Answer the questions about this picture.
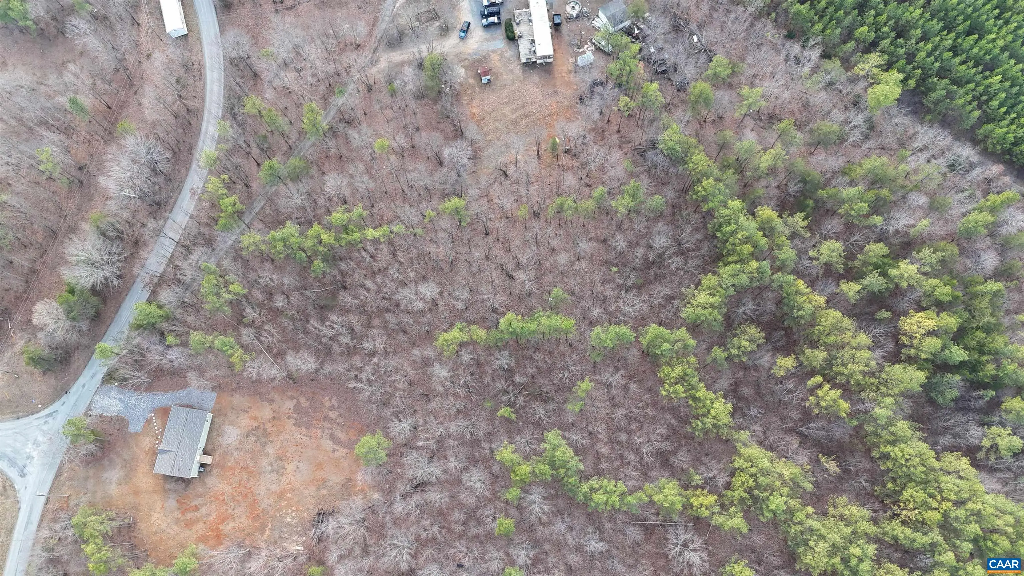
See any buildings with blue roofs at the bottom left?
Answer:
No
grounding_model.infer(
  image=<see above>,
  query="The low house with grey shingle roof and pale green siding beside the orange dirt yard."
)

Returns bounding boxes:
[153,406,214,478]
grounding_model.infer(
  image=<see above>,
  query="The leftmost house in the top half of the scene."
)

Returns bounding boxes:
[160,0,188,38]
